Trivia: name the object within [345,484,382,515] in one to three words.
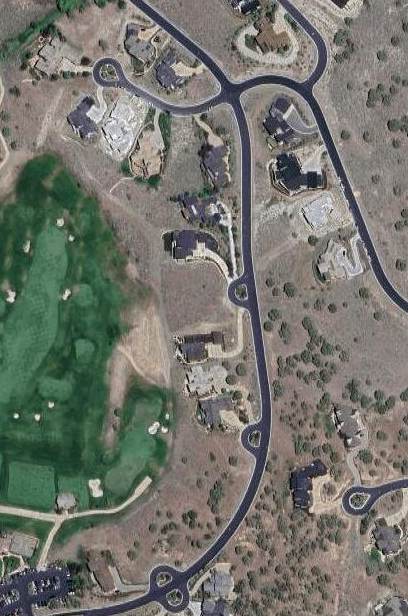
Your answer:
roundabout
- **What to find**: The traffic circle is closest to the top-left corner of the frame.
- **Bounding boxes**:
[94,58,125,87]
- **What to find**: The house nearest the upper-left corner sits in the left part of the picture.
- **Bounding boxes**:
[28,30,86,79]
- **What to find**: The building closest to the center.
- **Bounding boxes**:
[176,331,223,364]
